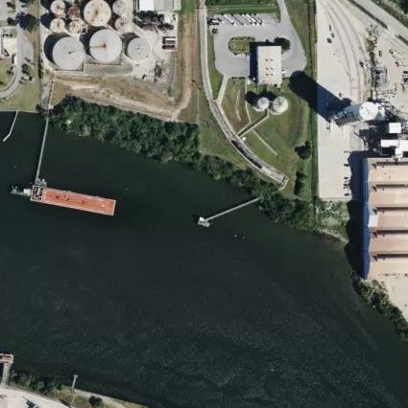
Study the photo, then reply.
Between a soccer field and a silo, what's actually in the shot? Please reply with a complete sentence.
The image shows a silo.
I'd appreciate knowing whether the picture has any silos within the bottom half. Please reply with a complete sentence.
No, there is no silo within the bottom half.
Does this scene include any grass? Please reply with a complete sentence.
Yes, grass shows up in the scene.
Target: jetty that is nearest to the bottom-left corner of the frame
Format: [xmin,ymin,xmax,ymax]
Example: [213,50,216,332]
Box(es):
[0,354,13,389]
